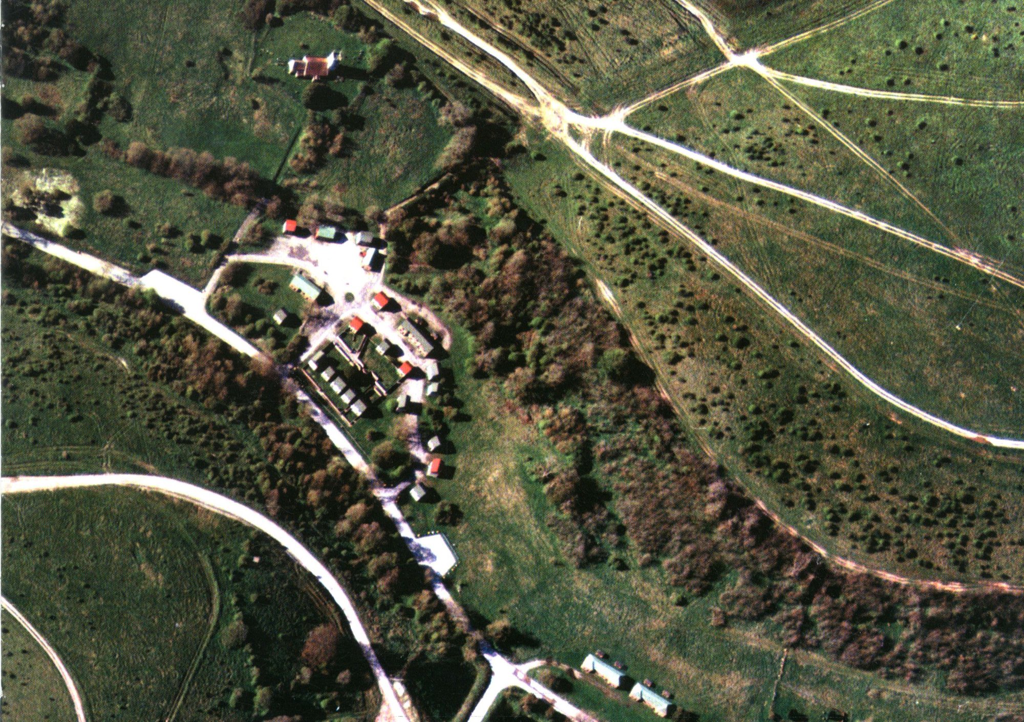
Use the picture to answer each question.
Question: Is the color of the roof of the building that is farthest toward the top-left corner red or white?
red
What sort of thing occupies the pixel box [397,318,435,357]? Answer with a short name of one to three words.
house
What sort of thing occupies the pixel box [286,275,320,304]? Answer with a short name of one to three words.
house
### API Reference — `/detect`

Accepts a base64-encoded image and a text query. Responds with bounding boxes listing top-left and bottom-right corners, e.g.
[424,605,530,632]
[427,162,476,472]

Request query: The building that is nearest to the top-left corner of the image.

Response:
[291,56,342,87]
